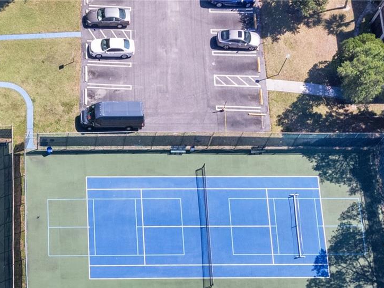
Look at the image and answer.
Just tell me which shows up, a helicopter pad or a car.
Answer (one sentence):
The image shows a car.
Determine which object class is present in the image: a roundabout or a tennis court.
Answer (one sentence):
There is a tennis court in the scene.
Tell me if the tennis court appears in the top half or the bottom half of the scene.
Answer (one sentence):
The tennis court is in the bottom half of the image.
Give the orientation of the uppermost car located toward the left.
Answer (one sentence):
The uppermost car located toward the left is oriented from side to side.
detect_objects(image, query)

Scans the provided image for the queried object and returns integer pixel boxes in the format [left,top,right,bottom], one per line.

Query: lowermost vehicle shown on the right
[216,28,262,50]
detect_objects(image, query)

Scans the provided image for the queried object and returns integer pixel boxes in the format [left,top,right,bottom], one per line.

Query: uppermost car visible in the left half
[85,5,130,28]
